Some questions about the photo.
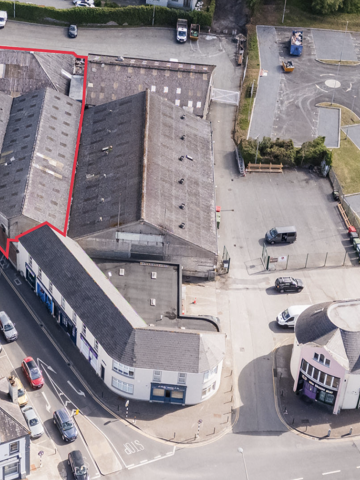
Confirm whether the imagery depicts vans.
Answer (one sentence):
Yes, there's a van down there.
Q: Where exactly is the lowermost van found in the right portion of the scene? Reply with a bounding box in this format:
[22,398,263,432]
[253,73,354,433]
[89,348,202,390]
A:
[273,299,318,327]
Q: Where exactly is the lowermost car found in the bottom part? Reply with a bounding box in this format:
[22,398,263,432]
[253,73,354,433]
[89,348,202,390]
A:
[67,448,91,480]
